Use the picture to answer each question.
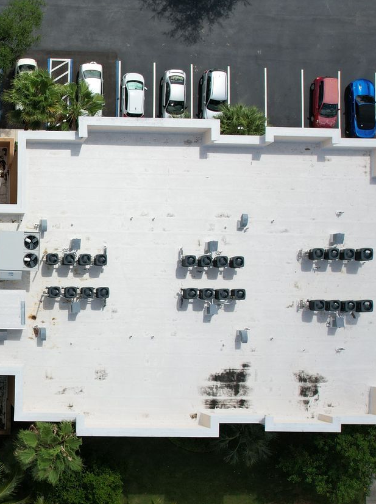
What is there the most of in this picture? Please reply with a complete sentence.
For the most part, this view shows buildings.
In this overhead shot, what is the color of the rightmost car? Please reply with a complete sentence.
The rightmost car looks blue in the image.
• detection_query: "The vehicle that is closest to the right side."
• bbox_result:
[346,78,376,139]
